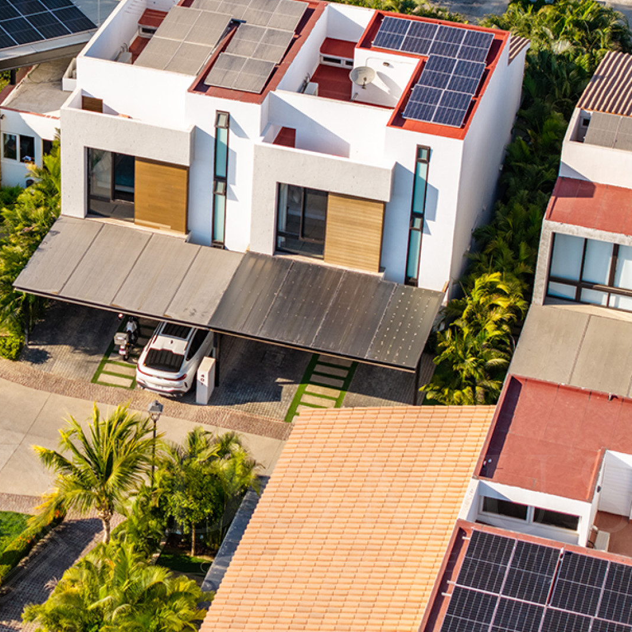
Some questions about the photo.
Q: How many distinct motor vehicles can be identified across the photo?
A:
2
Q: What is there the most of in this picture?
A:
buildings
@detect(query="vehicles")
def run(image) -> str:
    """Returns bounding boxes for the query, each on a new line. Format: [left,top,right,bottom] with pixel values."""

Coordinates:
[108,318,147,355]
[140,325,236,395]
